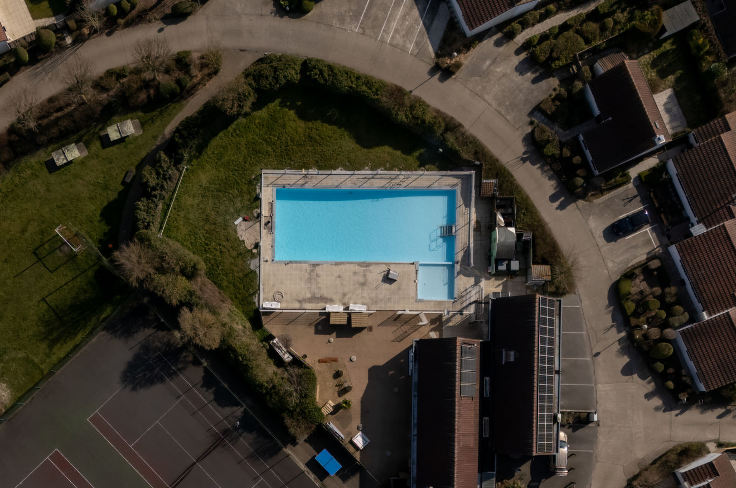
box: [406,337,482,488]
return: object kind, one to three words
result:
building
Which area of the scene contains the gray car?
bottom right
